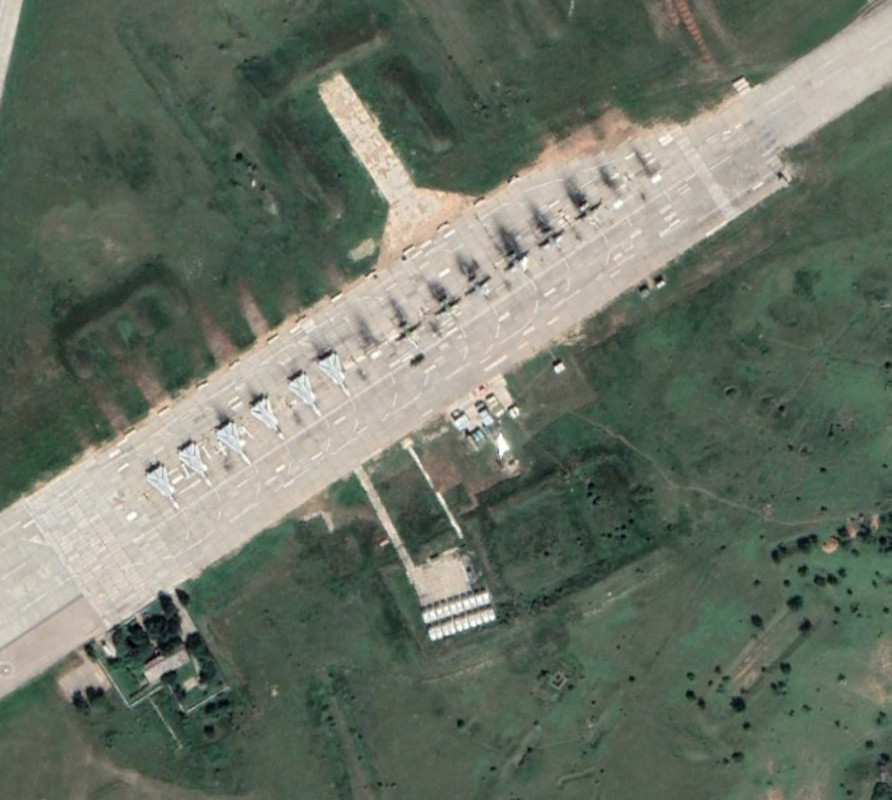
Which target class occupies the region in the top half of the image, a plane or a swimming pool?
plane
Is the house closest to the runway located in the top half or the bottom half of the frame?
bottom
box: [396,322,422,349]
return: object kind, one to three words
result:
airplane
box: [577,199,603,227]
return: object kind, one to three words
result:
airplane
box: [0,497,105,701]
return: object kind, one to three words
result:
runway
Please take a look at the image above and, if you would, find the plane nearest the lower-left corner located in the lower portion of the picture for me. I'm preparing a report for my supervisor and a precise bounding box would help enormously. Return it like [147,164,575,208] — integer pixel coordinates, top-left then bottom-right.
[146,466,177,508]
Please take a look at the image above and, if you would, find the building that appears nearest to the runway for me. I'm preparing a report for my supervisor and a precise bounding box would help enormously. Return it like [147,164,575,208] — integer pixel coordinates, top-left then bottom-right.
[143,649,190,688]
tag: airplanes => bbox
[146,466,177,508]
[465,275,491,302]
[179,443,210,485]
[539,227,566,254]
[396,322,422,349]
[577,199,603,227]
[436,296,462,323]
[321,352,349,396]
[217,424,250,464]
[252,397,284,439]
[504,250,530,277]
[290,374,321,417]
